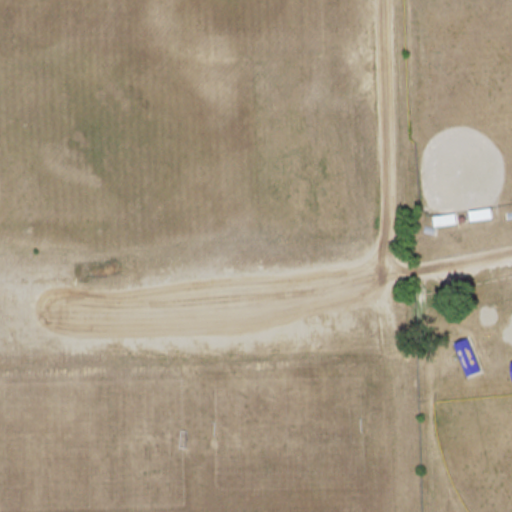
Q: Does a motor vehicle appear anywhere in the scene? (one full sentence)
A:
No, the picture doesn't show any motor vehicle.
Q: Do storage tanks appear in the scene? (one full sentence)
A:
No, the photo shows no storage tank.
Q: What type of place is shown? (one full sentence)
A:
It's a sports ground.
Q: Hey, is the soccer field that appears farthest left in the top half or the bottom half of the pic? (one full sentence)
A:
The soccer field that appears farthest left sits in the bottom half of the picture.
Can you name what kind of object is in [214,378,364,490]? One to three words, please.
soccer field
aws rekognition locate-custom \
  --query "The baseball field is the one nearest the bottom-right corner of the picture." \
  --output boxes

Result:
[437,395,512,512]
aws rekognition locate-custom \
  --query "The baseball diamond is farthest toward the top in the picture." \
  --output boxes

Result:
[406,0,512,213]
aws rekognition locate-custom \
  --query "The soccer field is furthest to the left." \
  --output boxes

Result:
[0,377,185,507]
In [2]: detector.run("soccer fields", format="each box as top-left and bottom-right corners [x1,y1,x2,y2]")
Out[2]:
[214,378,364,490]
[0,377,185,507]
